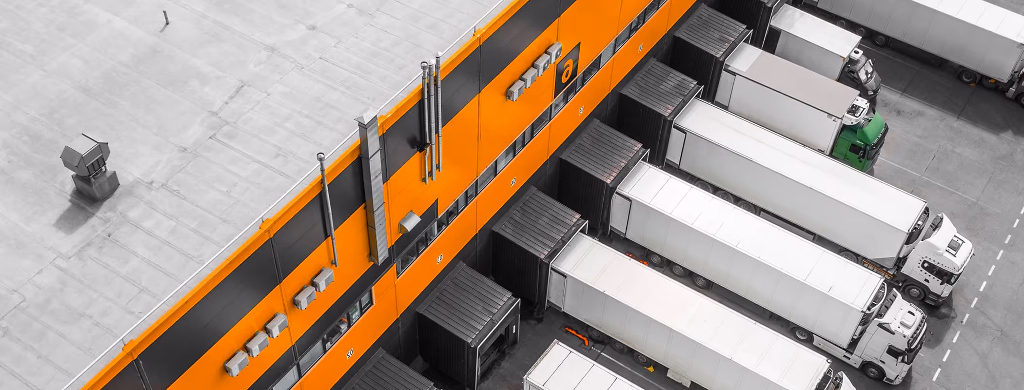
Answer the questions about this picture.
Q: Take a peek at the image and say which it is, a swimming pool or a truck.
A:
truck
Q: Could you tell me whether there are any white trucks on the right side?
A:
Yes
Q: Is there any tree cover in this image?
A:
No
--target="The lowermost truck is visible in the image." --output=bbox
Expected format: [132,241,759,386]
[523,339,647,390]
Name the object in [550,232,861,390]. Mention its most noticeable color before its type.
white truck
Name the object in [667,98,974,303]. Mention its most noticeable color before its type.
white truck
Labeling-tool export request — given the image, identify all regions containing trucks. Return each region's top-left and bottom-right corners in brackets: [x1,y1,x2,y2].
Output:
[803,0,1024,105]
[717,43,894,175]
[667,98,974,303]
[612,162,931,382]
[523,339,647,390]
[550,232,861,390]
